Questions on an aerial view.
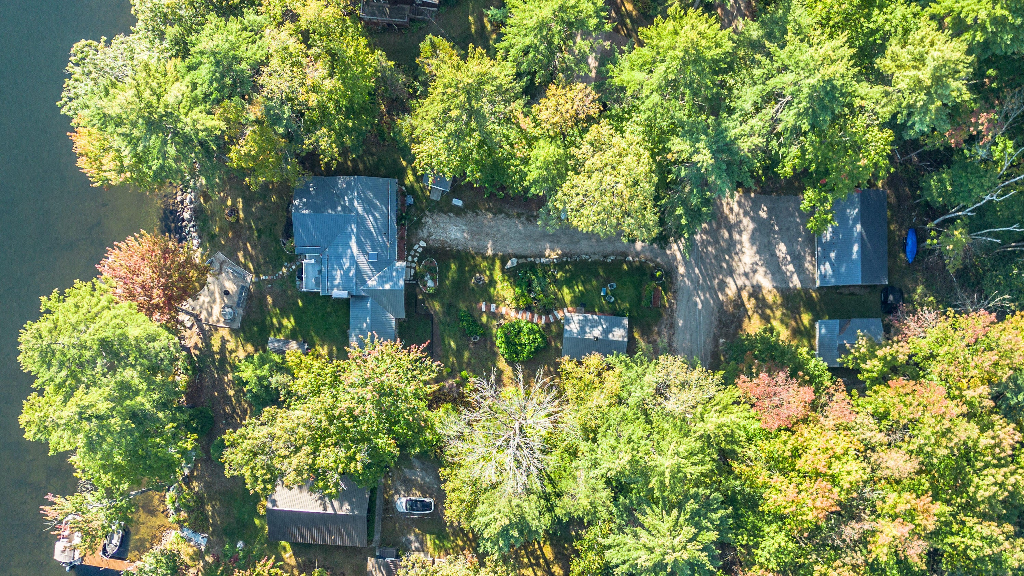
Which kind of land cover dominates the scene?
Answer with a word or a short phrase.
trees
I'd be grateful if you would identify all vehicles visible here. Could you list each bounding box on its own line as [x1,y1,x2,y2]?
[396,497,434,516]
[881,282,903,319]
